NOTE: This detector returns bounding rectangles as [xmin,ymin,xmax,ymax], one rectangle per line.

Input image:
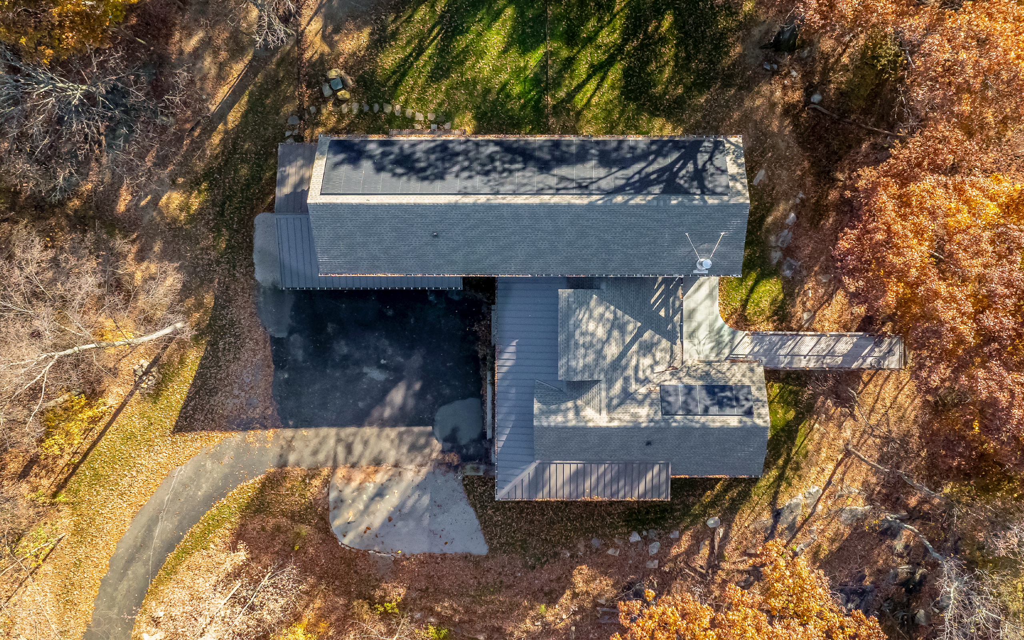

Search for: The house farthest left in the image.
[274,129,771,502]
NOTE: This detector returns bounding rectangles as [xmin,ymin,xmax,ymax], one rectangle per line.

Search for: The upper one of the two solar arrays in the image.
[321,139,731,195]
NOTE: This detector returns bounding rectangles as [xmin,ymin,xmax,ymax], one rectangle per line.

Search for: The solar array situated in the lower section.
[660,384,754,416]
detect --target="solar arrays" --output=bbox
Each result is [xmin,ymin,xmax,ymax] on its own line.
[321,139,731,195]
[660,384,754,416]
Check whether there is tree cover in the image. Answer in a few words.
Yes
